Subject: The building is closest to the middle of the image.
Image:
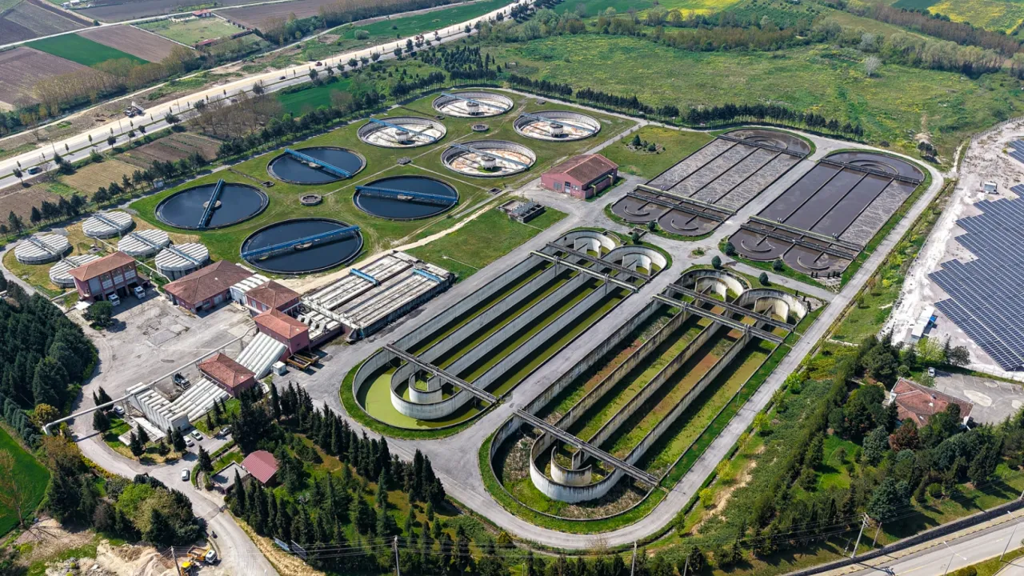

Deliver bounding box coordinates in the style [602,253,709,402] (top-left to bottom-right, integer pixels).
[542,154,621,200]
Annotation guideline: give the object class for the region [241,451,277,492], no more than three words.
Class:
building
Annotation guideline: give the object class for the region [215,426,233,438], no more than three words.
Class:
vehicle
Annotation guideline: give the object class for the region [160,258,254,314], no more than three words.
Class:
building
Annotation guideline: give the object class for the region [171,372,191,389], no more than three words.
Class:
vehicle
